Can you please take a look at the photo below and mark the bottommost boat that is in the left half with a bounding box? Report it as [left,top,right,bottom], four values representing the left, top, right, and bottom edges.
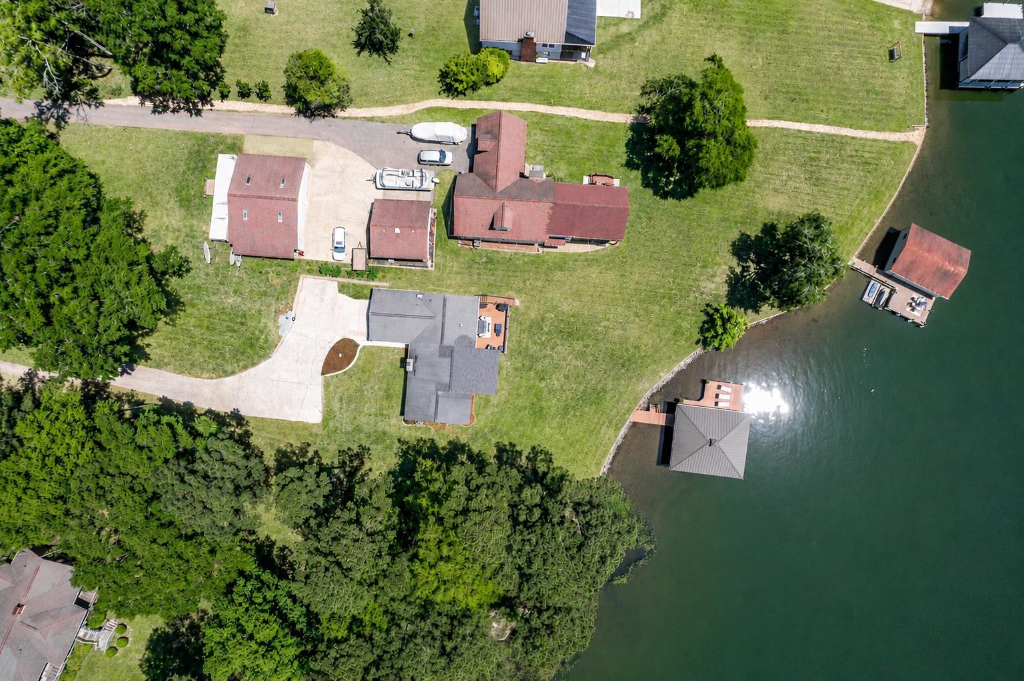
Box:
[374,166,436,186]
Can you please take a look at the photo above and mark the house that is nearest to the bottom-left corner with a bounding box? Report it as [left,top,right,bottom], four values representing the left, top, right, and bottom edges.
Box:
[0,548,99,681]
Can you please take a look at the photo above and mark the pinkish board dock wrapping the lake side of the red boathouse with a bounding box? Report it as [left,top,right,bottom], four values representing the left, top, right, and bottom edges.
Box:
[849,261,937,328]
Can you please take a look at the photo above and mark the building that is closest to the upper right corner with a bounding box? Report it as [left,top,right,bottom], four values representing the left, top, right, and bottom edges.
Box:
[953,16,1024,90]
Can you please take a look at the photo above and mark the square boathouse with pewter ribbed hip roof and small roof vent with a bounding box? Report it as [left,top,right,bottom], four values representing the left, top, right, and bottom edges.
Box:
[670,403,754,480]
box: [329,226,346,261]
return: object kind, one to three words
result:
car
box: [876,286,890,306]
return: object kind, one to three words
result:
boat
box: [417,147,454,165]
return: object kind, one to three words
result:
car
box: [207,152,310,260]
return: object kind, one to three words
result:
building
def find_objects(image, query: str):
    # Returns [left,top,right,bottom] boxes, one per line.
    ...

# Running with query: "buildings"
[670,403,754,480]
[479,0,598,67]
[369,288,498,424]
[370,198,431,266]
[453,114,628,248]
[953,16,1024,90]
[207,152,310,260]
[0,548,99,681]
[878,222,971,299]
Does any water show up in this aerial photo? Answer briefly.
Yes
